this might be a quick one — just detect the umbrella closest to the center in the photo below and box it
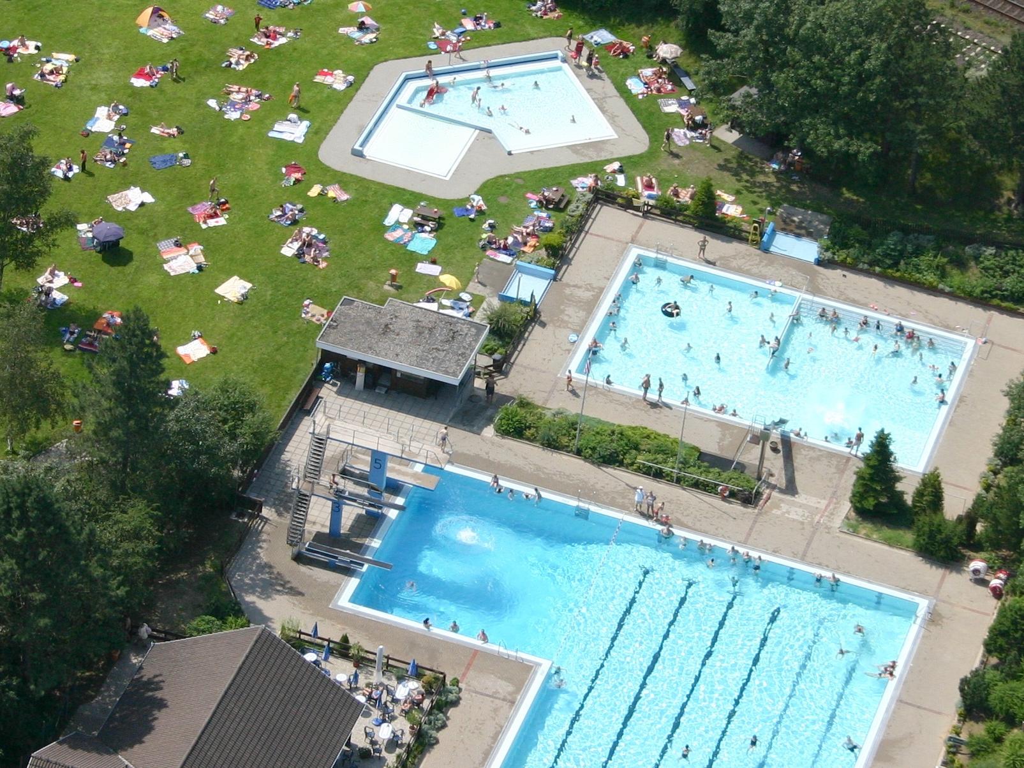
[432,274,457,303]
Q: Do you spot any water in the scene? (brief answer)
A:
Yes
